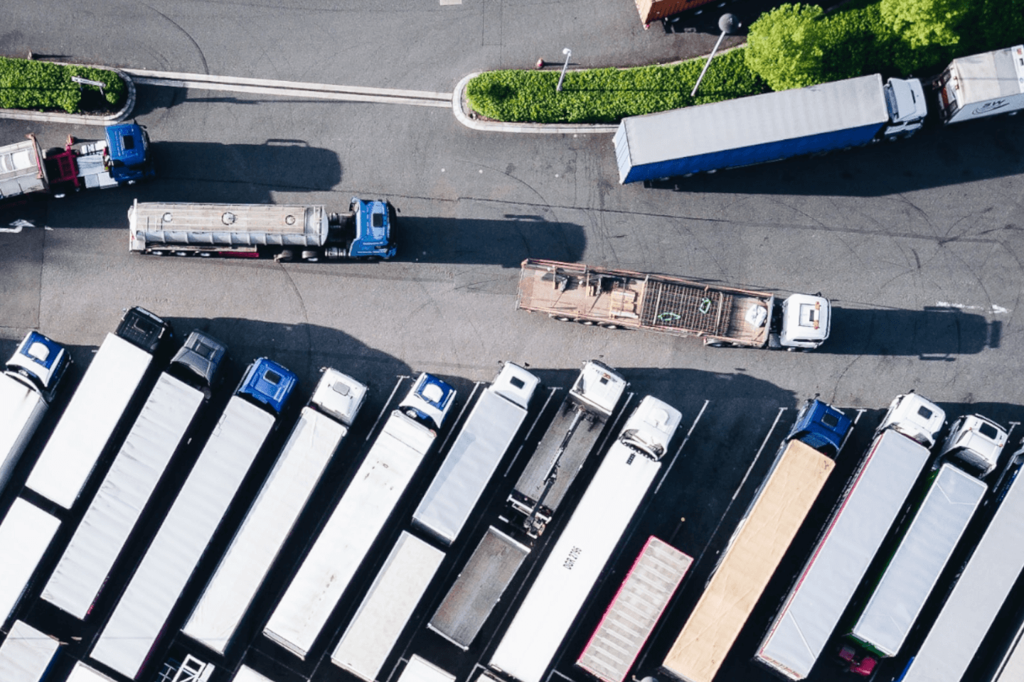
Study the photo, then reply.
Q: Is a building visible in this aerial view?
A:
No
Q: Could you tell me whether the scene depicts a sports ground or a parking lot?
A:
parking lot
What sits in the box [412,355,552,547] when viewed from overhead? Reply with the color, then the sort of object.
white truck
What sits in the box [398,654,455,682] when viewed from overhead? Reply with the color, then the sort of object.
white trailer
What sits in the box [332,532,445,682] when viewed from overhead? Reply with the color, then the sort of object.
white trailer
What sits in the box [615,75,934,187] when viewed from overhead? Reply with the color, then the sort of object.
white truck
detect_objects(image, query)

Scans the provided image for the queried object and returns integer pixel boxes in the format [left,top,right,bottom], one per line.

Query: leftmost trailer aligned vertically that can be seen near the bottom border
[0,499,73,651]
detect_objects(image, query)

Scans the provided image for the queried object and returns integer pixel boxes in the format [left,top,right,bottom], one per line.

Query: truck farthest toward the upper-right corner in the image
[925,45,1024,126]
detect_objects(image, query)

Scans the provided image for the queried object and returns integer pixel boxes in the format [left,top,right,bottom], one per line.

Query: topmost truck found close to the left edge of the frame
[0,120,160,198]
